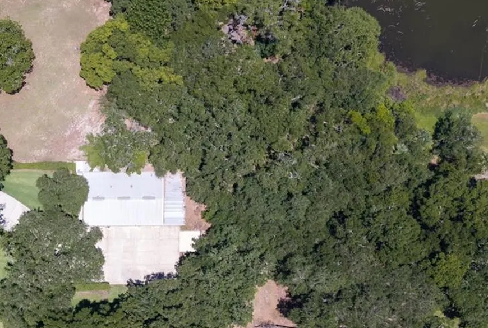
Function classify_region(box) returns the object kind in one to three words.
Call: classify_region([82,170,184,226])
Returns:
building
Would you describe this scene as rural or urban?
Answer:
rural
